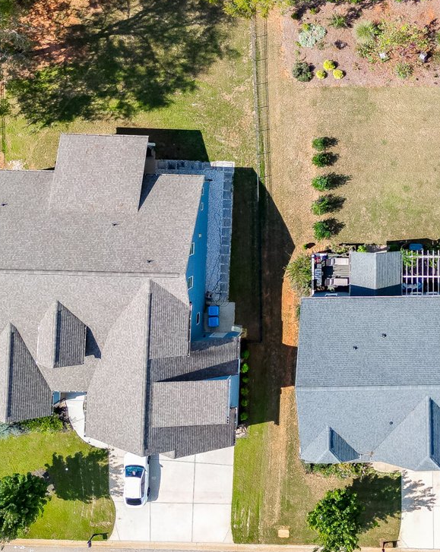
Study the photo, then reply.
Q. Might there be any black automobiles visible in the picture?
No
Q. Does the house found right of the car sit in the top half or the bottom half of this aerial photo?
bottom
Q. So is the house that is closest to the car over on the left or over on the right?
left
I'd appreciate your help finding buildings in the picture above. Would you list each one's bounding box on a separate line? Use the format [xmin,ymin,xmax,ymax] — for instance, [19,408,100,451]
[0,132,242,461]
[295,250,440,472]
